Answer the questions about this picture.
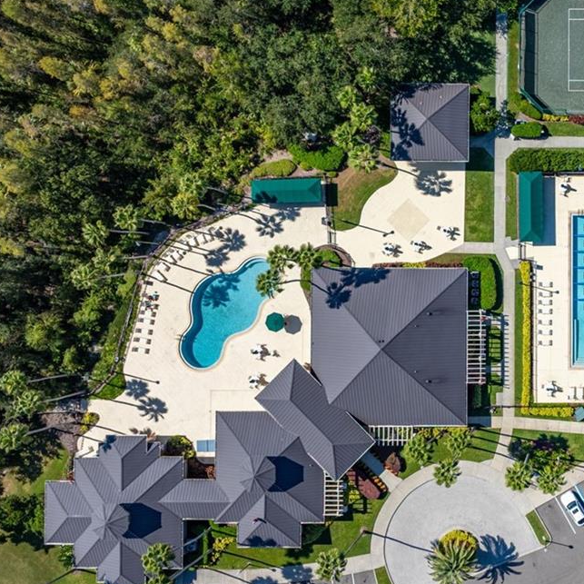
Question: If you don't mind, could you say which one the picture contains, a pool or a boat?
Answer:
pool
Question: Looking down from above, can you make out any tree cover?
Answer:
Yes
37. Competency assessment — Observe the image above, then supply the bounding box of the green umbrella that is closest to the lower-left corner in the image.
[266,313,285,331]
